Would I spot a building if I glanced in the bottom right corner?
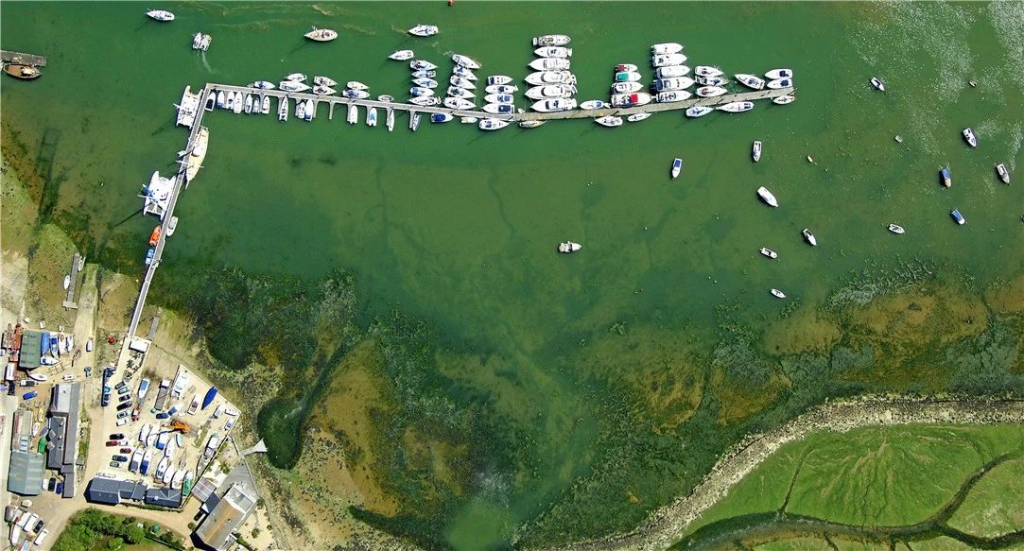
No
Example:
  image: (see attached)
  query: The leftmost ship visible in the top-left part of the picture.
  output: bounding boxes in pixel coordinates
[2,63,41,77]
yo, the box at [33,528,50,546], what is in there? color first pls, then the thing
white vehicle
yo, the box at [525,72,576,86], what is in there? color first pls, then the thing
white boat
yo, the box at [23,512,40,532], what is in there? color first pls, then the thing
white camper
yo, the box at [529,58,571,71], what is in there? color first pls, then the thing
white boat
